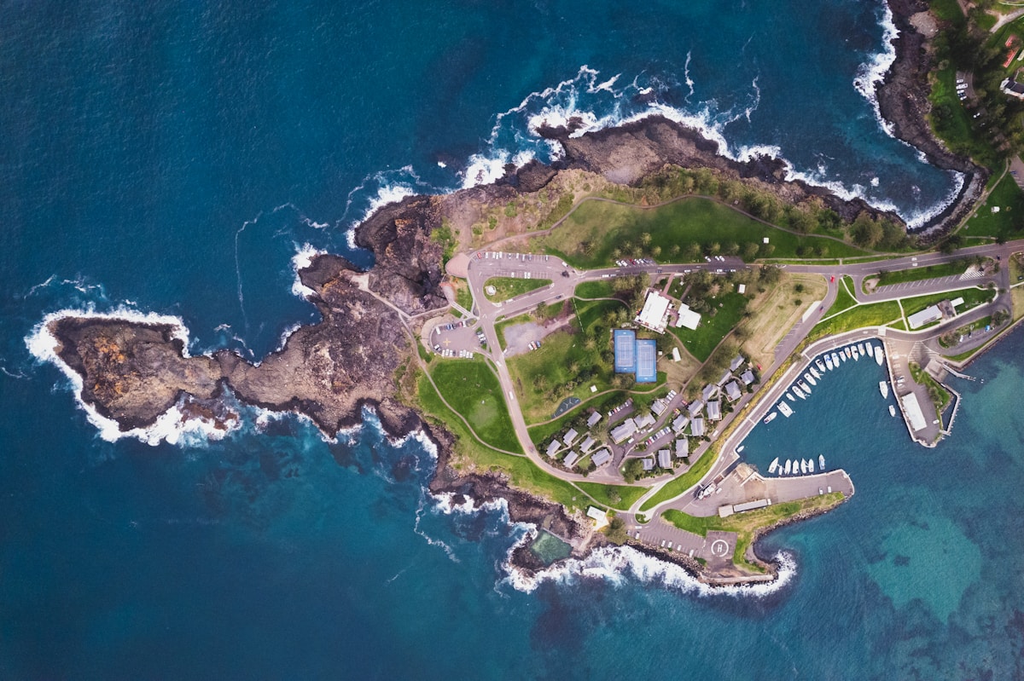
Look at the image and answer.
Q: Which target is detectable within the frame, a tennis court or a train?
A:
tennis court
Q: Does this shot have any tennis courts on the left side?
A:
No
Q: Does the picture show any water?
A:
Yes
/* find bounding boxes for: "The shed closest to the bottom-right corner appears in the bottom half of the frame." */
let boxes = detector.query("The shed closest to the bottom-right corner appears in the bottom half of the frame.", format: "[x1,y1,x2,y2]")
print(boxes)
[903,394,929,431]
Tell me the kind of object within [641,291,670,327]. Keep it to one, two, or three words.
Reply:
building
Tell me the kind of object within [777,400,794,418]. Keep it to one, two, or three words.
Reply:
boat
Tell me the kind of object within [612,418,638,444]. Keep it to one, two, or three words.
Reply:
building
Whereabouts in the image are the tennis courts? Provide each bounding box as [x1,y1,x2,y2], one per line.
[614,329,636,373]
[636,339,657,383]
